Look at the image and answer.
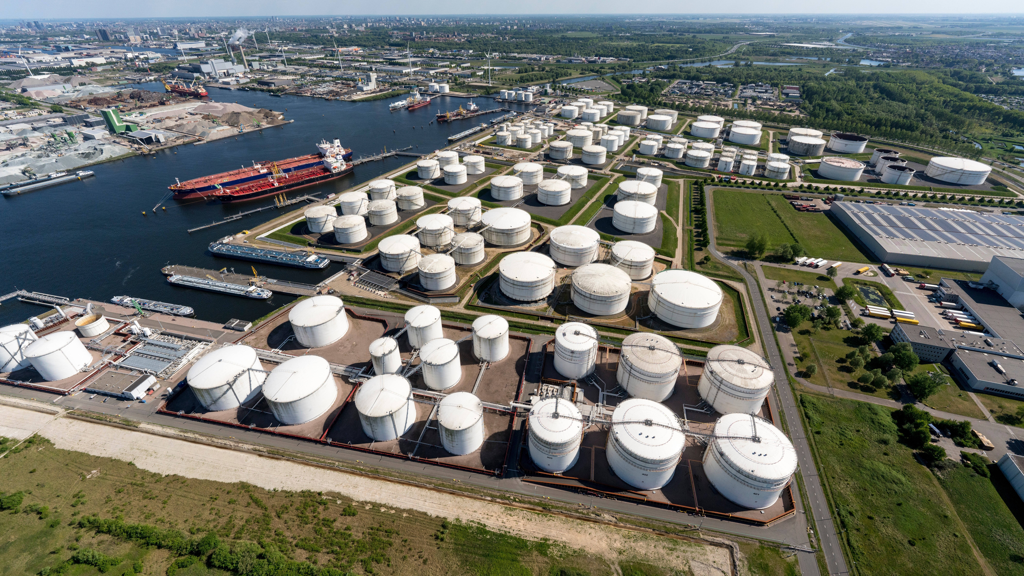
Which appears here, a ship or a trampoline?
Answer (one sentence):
I can see a ship in this picture.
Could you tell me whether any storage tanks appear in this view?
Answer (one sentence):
Yes, a storage tank is visible in the scene.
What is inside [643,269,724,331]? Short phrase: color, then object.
white storage tank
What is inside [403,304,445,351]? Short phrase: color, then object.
white storage tank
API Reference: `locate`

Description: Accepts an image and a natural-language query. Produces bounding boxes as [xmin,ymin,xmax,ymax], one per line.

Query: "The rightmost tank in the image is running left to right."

[922,157,993,185]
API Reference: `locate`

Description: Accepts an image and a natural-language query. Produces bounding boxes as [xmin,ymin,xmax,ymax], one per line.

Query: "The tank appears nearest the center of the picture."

[496,252,558,303]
